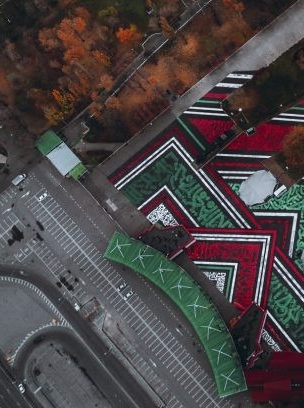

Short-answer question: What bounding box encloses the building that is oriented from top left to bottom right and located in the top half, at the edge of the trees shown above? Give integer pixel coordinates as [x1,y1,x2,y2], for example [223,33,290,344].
[37,130,90,182]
